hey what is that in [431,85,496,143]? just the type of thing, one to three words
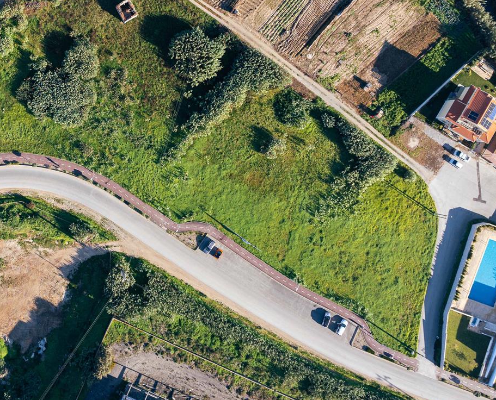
house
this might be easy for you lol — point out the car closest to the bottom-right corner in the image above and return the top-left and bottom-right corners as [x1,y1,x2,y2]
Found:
[336,318,348,336]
